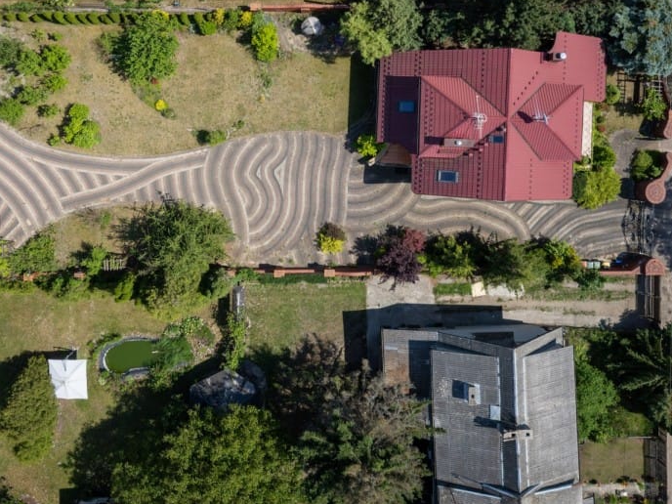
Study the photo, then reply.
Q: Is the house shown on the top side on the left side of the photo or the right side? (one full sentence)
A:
The house shown on the top side appears in the right half of the scene.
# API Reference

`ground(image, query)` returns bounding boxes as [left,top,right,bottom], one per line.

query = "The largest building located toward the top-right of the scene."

[374,33,608,202]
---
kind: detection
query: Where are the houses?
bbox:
[374,33,608,202]
[381,317,578,504]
